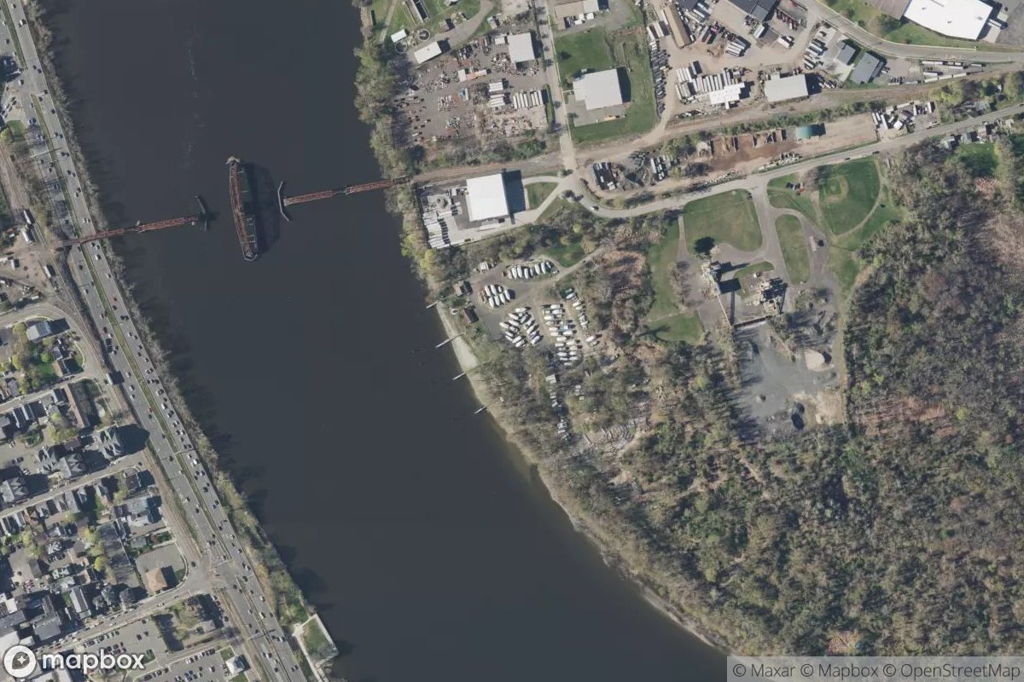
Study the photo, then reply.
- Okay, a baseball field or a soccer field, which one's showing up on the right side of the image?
baseball field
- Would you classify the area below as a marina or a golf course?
marina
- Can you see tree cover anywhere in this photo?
Yes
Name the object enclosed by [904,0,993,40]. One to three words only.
building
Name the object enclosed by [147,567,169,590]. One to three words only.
house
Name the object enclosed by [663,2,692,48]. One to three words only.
shed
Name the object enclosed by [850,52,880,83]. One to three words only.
building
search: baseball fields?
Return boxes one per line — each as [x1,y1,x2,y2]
[819,157,882,239]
